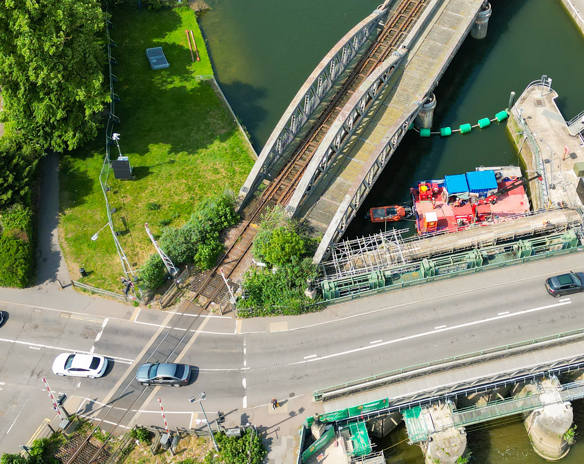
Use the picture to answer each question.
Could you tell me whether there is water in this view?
Yes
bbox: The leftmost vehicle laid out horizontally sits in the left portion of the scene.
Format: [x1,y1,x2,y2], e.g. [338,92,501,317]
[51,350,111,379]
